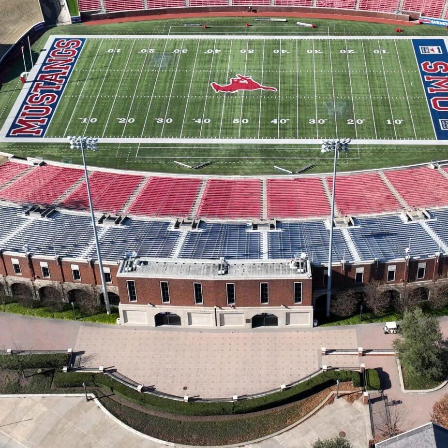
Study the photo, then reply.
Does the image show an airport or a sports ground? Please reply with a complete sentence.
The area seen from above is a sports ground.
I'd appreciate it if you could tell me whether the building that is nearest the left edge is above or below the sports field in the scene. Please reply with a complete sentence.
Within the scene, the building that is nearest the left edge can be found below the sports field.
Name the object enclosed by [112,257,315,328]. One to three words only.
building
